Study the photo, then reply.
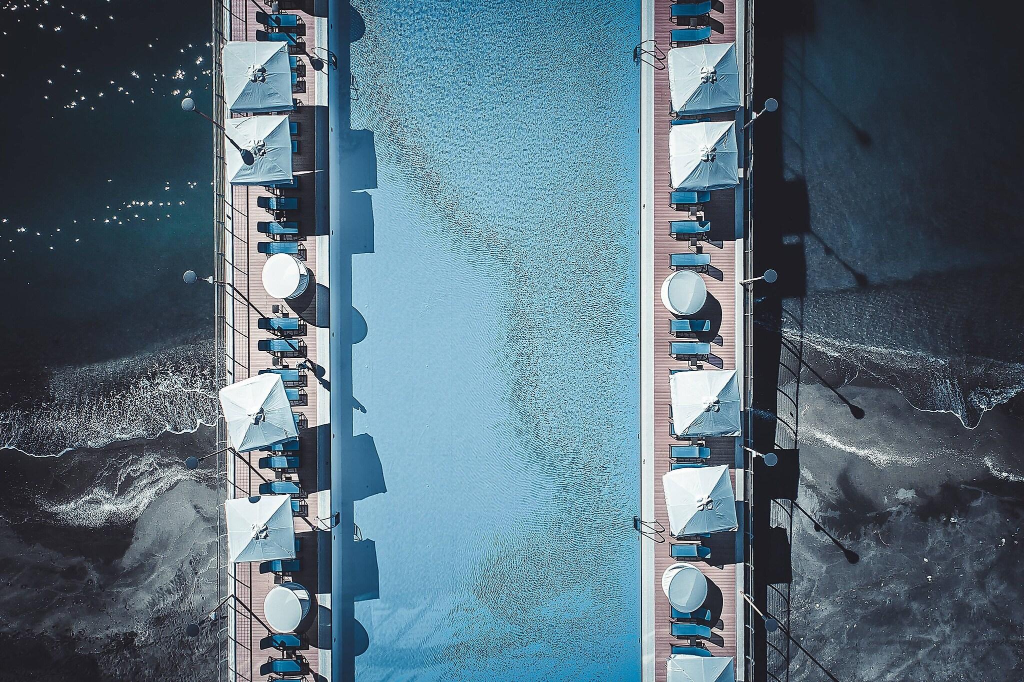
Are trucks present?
No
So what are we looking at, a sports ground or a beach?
beach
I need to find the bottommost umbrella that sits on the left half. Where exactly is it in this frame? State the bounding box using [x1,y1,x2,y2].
[225,490,299,564]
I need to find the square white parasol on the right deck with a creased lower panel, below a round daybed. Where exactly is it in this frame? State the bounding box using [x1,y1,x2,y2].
[669,367,742,439]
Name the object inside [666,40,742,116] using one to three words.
umbrella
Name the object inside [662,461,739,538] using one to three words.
umbrella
